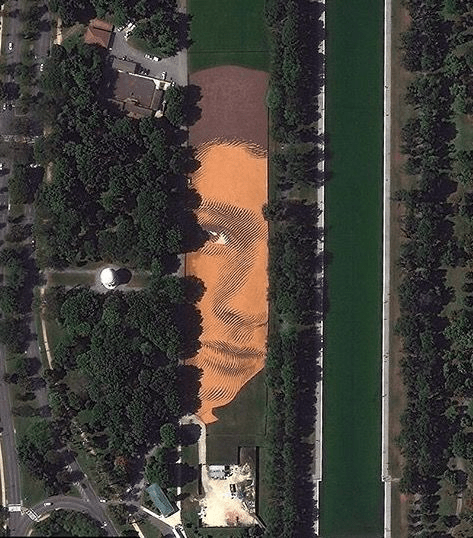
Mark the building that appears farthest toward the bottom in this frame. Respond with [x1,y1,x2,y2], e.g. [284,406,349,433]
[146,484,174,518]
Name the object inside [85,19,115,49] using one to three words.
building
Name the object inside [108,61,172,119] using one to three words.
building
